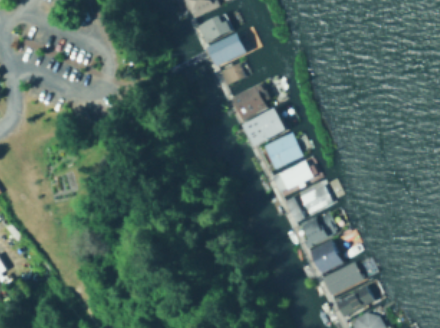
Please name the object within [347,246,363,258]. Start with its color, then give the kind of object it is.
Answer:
white boat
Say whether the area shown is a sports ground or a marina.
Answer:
marina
